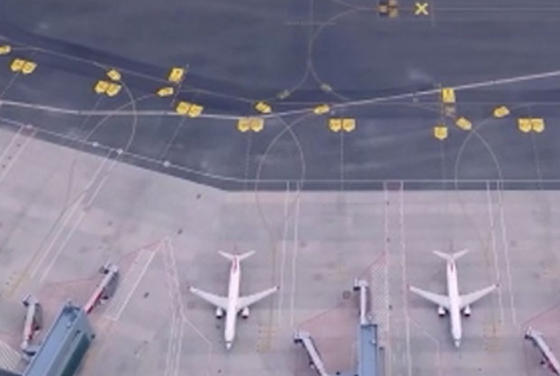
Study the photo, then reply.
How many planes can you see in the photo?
2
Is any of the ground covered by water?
No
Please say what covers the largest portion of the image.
paved ground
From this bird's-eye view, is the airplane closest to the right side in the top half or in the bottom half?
bottom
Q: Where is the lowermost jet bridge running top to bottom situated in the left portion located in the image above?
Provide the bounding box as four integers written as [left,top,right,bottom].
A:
[20,299,44,356]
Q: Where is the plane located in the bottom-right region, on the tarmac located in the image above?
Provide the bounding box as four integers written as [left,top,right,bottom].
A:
[408,247,499,348]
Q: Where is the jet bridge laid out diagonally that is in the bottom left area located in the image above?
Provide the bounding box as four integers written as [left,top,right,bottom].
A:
[80,263,118,320]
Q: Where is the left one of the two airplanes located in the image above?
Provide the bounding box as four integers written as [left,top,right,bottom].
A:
[187,250,278,350]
